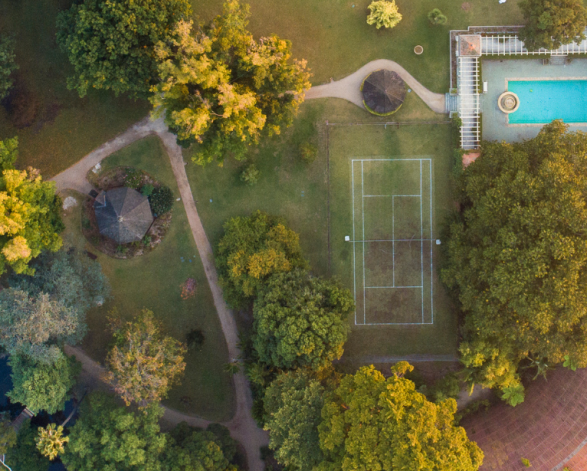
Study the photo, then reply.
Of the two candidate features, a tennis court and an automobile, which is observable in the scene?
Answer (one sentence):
Visible in the photo is a tennis court.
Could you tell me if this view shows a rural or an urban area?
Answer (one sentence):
The area shown here is rural.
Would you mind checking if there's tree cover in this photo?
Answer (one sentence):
Yes, there's tree cover in this view.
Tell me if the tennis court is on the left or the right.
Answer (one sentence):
It is on the right.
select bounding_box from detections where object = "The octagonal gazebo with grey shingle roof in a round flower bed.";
[92,186,153,243]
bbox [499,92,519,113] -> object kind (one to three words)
fountain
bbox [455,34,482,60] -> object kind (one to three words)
building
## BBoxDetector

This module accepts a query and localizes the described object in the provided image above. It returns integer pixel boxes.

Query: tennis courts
[333,138,451,345]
